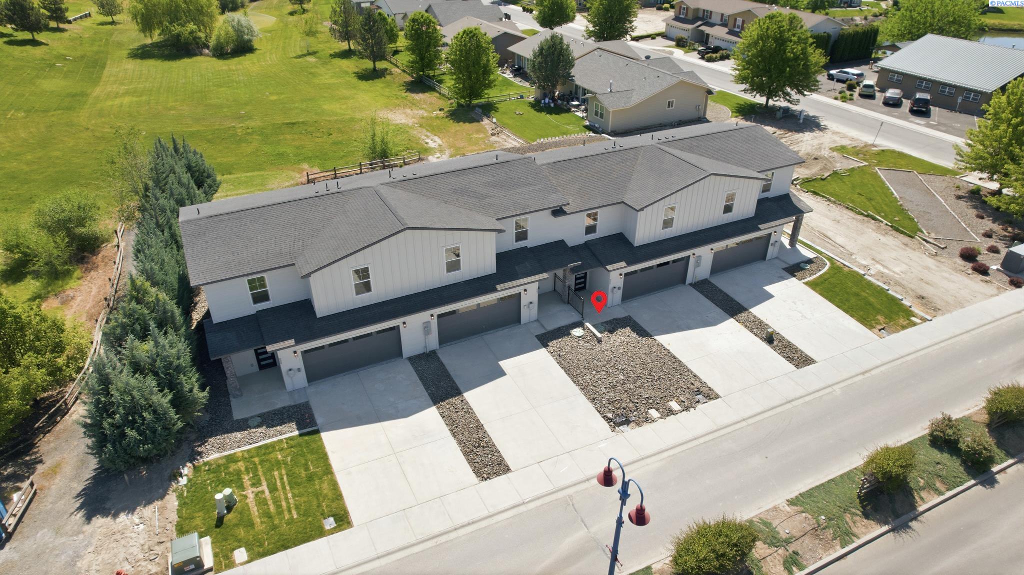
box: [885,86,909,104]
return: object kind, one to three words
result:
car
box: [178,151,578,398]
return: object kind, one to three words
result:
house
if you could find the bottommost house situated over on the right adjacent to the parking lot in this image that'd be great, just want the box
[525,120,816,308]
